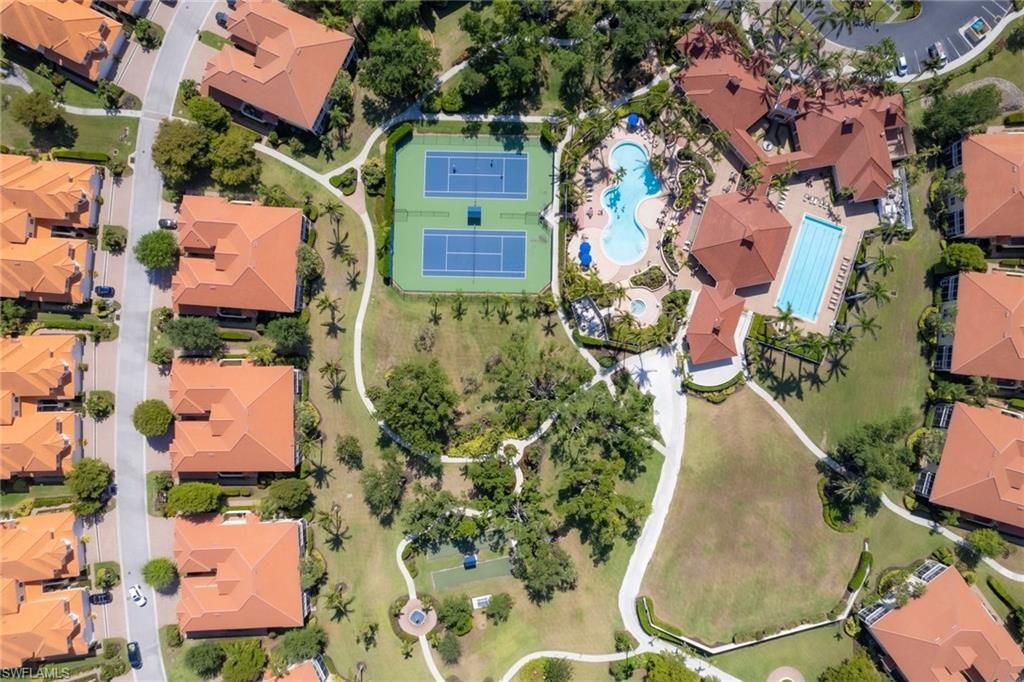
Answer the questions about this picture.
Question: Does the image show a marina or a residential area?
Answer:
residential area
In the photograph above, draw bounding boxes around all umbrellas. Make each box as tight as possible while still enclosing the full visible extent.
[580,241,591,253]
[580,252,592,264]
[627,113,639,125]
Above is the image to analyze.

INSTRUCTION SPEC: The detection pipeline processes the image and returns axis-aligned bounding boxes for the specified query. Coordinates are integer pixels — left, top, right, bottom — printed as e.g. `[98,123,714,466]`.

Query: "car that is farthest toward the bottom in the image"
[127,644,139,667]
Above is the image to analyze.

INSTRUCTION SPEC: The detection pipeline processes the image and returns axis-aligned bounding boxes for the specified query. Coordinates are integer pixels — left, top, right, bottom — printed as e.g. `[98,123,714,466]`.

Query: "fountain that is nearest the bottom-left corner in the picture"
[408,609,427,627]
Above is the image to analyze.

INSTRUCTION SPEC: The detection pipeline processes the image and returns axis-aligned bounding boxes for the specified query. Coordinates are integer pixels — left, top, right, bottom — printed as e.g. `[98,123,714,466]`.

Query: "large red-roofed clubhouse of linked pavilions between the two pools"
[675,24,917,364]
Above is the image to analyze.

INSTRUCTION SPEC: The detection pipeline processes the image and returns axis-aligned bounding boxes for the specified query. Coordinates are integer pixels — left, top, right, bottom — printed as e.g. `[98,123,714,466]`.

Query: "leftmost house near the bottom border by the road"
[0,511,100,668]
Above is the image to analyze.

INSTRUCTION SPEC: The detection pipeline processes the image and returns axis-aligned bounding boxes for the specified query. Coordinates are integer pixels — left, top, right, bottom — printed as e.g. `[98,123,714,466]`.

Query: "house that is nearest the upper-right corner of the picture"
[946,125,1024,248]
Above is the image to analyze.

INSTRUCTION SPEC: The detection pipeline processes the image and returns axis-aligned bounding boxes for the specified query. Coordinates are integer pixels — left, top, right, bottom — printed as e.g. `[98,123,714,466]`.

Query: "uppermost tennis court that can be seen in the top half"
[424,151,528,200]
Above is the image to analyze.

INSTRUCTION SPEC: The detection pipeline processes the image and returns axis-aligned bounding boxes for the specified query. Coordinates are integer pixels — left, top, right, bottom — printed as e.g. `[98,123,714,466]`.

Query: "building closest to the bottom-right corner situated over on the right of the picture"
[860,562,1024,682]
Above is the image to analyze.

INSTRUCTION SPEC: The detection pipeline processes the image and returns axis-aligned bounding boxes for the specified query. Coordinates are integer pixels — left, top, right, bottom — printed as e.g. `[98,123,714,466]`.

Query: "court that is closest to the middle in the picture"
[422,229,527,279]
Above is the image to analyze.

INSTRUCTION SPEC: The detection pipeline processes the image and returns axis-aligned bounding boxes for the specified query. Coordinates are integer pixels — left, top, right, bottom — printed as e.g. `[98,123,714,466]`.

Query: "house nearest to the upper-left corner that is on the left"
[0,0,142,84]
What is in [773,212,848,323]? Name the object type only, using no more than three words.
swimming pool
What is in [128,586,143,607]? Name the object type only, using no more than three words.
car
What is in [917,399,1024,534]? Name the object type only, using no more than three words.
house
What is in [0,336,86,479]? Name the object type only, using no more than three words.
house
